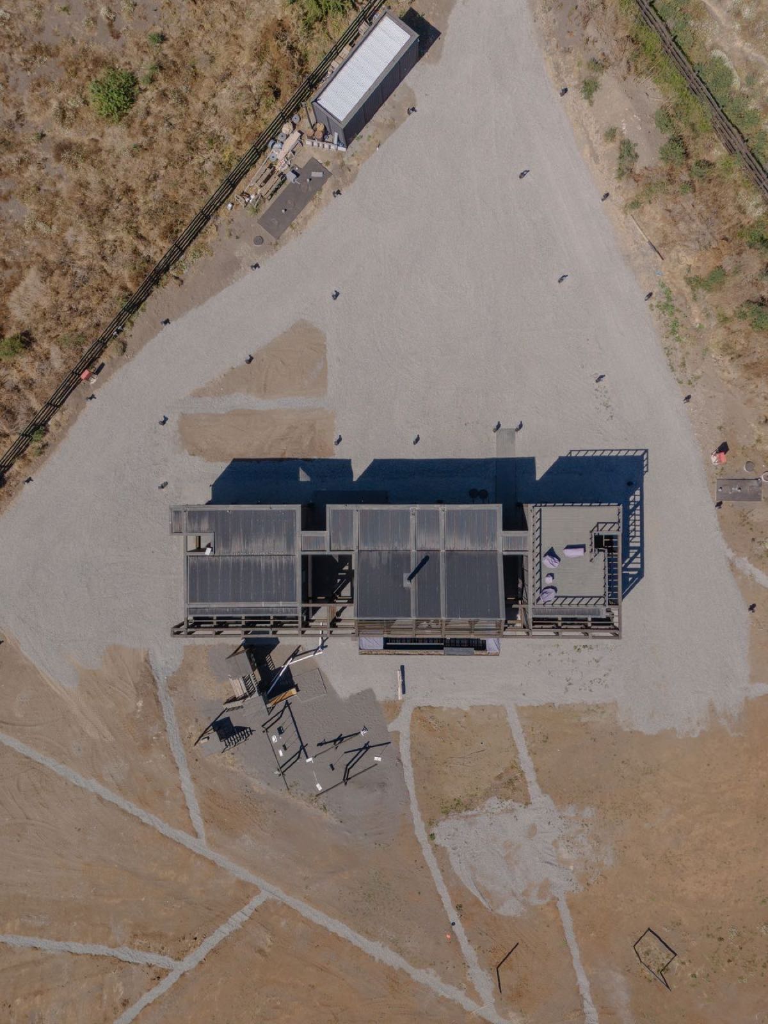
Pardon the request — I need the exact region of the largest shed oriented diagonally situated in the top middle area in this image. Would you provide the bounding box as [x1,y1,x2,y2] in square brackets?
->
[310,9,419,147]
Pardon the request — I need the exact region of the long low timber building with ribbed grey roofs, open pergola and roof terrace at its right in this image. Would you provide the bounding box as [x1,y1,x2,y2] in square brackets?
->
[170,504,624,637]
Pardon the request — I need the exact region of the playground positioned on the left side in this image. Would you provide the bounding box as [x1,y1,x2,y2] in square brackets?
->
[184,630,411,849]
